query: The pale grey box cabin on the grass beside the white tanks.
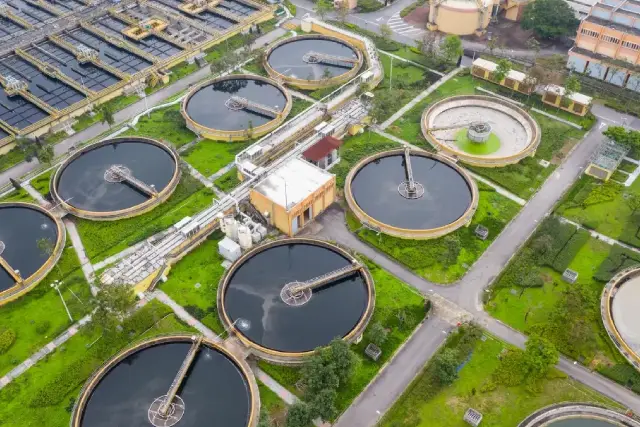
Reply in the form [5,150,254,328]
[218,238,242,266]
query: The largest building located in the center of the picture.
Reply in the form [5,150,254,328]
[249,154,338,234]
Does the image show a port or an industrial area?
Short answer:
industrial area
